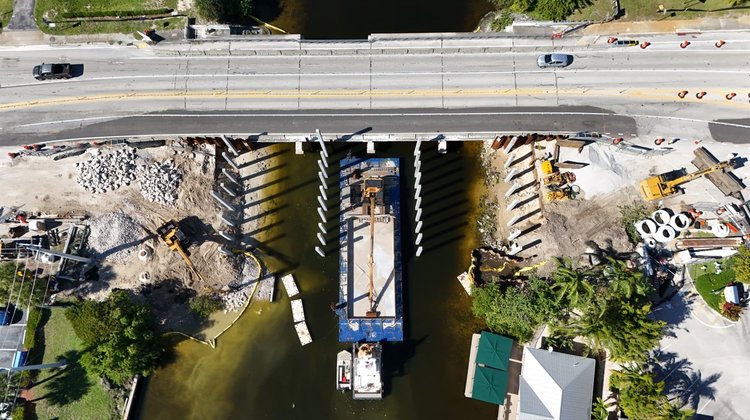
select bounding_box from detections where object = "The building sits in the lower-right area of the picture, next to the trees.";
[515,347,596,420]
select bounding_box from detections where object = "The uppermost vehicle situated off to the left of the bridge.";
[31,61,71,78]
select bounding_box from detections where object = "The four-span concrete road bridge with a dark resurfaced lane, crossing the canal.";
[152,33,604,155]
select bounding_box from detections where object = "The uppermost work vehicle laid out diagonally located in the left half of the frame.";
[153,217,202,281]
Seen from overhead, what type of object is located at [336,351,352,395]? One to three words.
boat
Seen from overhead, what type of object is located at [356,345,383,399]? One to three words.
boat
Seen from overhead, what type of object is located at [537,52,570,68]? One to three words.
car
